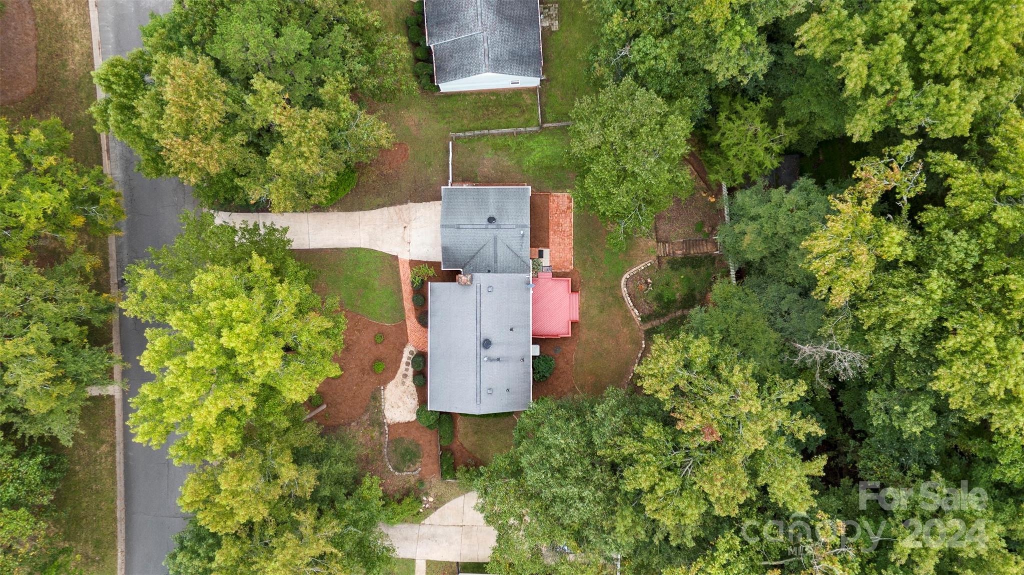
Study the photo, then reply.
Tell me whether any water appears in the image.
No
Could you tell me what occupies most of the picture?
trees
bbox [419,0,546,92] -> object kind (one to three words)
house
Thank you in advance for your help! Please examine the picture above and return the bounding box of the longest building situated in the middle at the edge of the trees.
[427,185,536,415]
